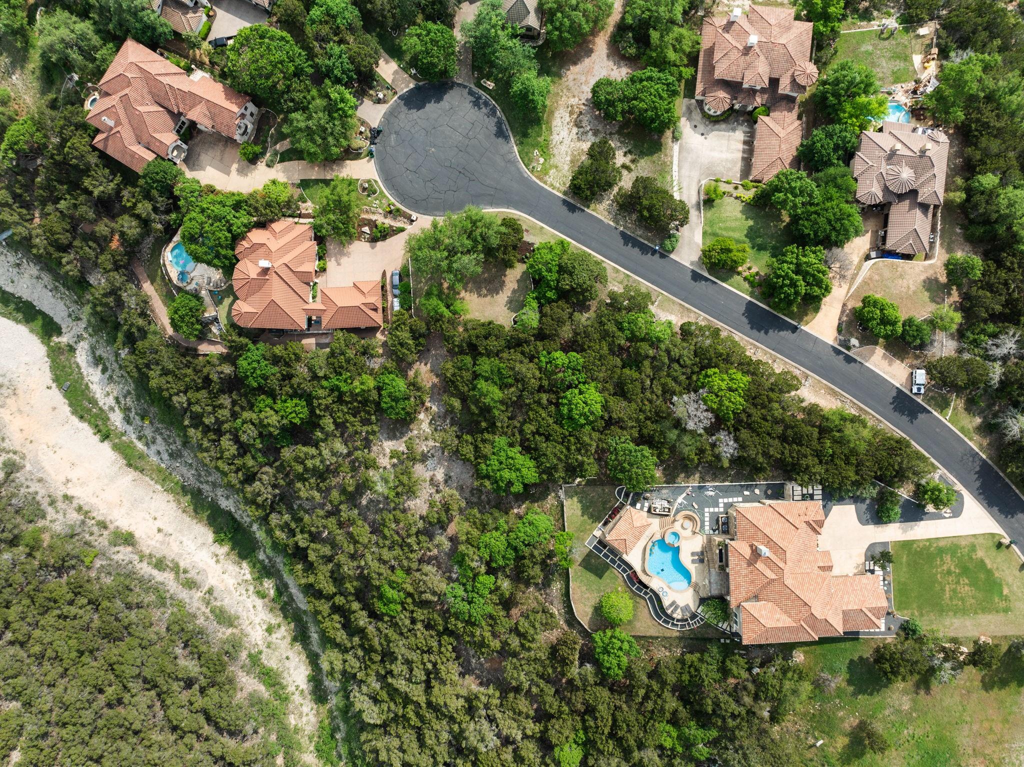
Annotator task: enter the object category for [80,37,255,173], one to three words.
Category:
house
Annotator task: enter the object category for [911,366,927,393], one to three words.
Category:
car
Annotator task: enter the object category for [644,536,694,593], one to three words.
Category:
swimming pool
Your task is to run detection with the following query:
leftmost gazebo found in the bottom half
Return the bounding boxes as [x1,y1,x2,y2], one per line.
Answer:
[604,506,652,556]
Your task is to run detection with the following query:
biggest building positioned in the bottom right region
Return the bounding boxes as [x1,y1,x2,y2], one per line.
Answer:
[723,499,888,645]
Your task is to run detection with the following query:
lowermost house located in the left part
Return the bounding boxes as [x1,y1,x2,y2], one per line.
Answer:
[229,220,383,329]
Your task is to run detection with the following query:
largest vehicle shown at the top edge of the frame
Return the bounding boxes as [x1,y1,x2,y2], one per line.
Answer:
[210,33,236,49]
